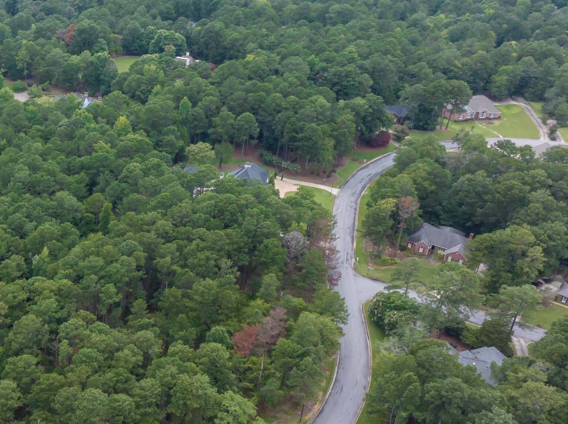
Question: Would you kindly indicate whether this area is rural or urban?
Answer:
rural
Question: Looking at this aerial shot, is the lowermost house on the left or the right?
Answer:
right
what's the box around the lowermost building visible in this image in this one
[445,342,508,391]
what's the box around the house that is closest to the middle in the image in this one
[221,164,270,195]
